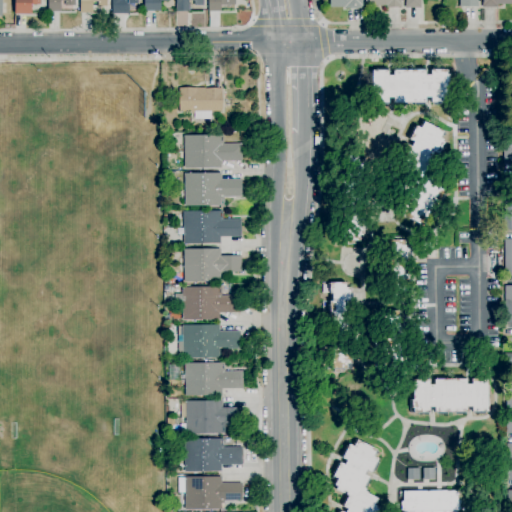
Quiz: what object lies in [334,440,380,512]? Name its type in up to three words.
building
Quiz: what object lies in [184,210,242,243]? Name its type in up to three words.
house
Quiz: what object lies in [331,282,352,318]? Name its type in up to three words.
building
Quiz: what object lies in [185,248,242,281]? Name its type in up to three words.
house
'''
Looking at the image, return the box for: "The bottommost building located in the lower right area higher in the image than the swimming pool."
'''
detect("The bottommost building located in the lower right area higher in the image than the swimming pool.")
[414,378,490,412]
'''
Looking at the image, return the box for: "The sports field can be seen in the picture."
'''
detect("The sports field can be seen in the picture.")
[0,62,158,512]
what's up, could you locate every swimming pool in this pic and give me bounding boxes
[410,435,446,461]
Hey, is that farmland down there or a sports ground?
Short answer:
sports ground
